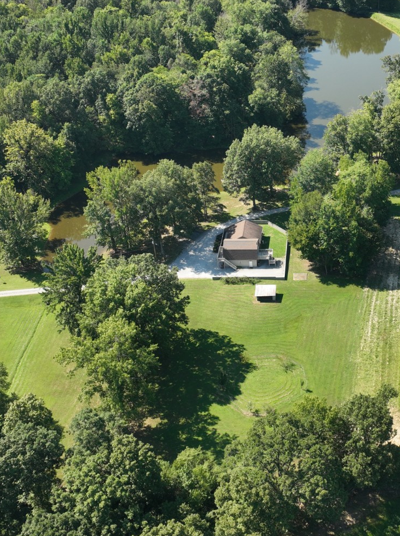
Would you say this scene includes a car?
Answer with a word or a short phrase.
No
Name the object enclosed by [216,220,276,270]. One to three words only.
house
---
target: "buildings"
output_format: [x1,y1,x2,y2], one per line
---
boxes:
[216,220,276,270]
[255,285,276,301]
